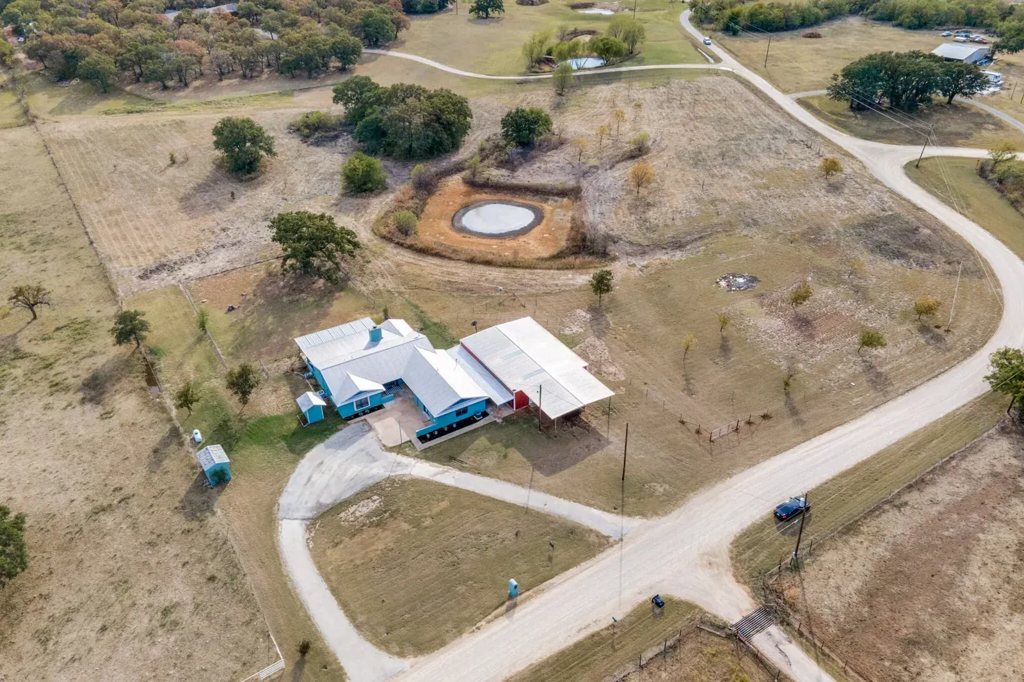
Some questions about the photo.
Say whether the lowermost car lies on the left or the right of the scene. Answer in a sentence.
The lowermost car is on the right side of the image.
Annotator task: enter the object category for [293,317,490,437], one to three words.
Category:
house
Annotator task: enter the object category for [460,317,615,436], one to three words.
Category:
barn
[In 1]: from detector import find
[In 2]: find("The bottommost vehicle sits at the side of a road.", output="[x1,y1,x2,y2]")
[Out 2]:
[775,496,814,521]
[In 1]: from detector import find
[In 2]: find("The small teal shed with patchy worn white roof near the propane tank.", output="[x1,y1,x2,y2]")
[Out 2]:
[204,452,234,485]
